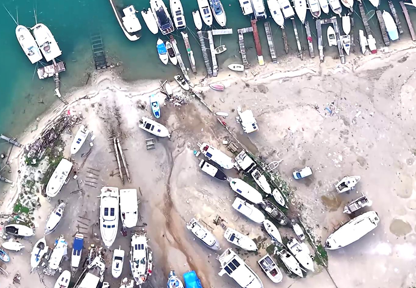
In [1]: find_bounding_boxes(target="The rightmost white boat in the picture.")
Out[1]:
[383,10,399,41]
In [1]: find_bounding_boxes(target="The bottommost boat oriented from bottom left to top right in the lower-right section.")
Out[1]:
[325,208,383,249]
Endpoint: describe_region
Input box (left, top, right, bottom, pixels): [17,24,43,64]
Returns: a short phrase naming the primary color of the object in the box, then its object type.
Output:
white boat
